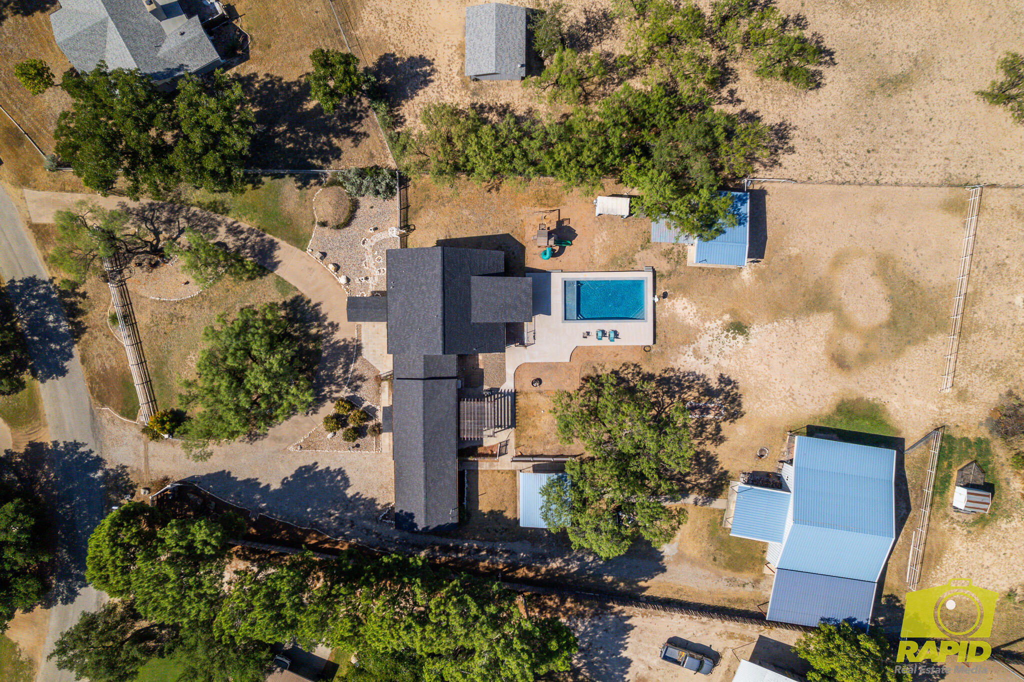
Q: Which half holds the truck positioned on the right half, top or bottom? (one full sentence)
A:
The bottom half of the photo is where the truck positioned on the right half is.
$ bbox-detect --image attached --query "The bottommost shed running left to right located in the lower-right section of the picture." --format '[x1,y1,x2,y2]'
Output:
[731,647,798,682]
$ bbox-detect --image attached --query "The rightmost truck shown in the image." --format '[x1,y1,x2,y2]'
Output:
[656,641,717,678]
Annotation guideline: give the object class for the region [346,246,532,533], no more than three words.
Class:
house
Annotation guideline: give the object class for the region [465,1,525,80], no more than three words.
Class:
shed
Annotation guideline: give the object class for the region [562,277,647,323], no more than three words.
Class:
swimming pool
